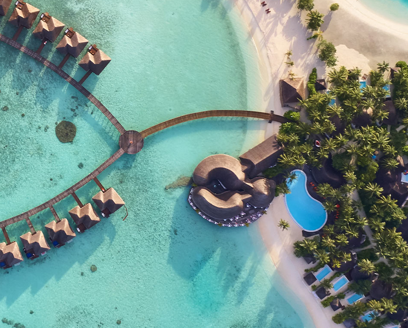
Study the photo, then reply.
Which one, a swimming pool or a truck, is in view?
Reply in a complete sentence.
It is a swimming pool that can be seen here.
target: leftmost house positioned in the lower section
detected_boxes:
[0,227,23,269]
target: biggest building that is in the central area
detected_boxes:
[187,154,275,227]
